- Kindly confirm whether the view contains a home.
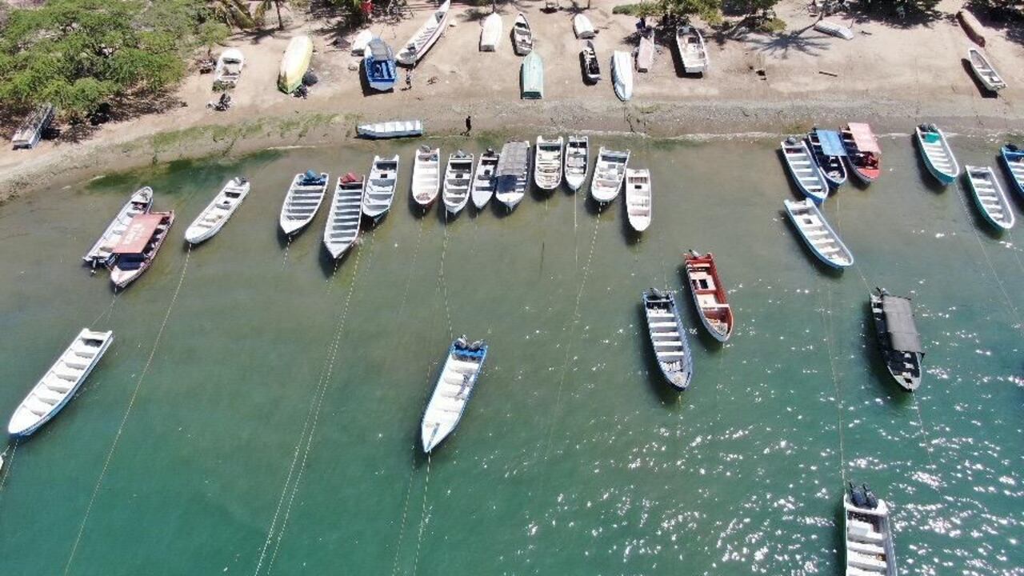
No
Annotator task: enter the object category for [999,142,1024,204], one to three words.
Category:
boat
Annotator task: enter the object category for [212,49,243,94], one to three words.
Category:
boat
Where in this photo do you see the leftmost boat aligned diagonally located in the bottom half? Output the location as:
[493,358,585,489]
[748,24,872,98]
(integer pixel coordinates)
[8,329,115,434]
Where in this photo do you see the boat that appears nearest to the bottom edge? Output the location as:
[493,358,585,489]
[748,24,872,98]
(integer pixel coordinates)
[841,483,896,576]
